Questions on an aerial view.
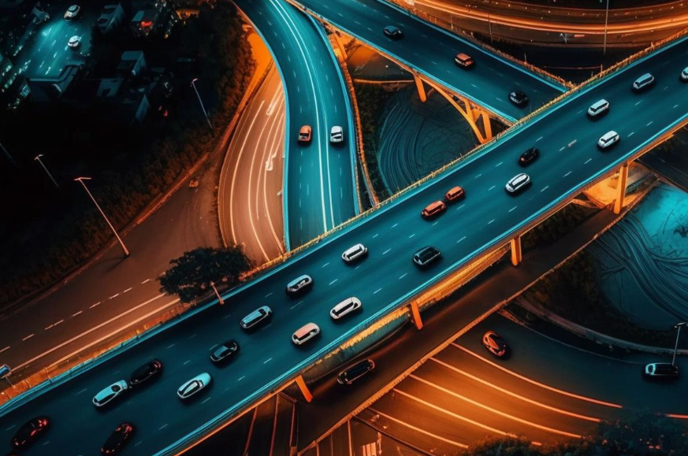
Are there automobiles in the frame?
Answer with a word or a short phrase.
Yes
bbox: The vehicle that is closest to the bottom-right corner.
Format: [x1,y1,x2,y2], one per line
[644,360,680,379]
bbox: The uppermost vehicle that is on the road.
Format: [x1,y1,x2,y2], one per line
[61,1,82,20]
